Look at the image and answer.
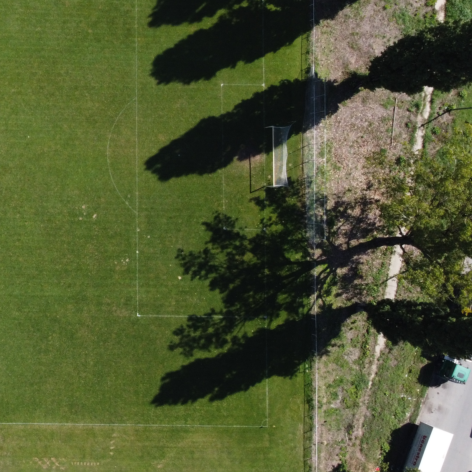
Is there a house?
No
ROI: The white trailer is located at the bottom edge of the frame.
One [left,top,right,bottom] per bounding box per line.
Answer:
[401,420,452,472]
